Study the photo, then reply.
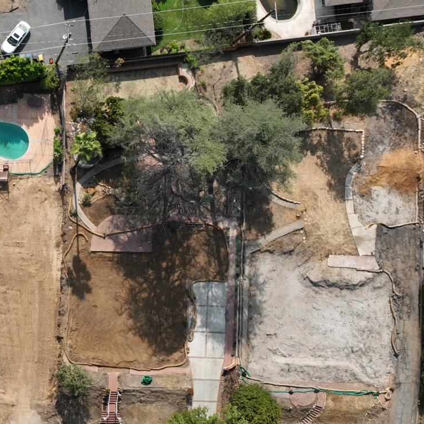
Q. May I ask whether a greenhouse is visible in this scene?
No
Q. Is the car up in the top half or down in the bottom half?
top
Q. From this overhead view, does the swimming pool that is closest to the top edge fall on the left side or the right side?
right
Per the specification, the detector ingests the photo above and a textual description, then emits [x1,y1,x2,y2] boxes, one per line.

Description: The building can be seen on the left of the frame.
[89,0,156,53]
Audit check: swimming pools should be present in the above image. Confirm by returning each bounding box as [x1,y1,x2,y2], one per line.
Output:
[0,119,31,161]
[254,0,300,22]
